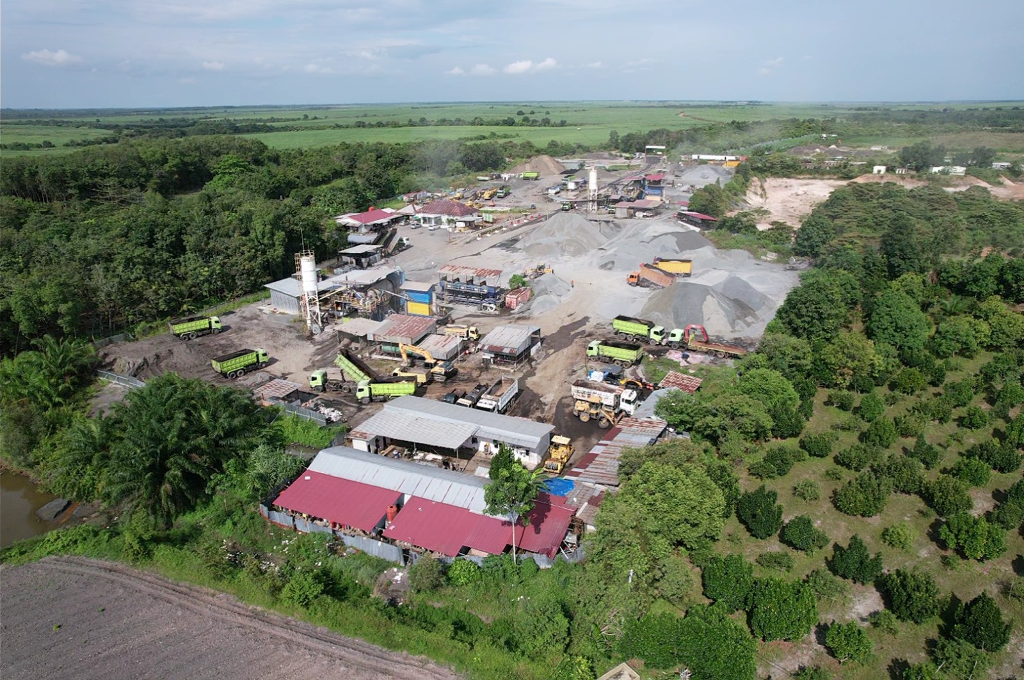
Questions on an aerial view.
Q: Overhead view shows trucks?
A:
Yes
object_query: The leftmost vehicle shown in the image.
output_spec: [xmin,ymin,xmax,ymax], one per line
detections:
[171,312,226,338]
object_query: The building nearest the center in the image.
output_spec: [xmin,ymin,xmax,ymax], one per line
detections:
[474,324,541,372]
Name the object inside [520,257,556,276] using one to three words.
work vehicle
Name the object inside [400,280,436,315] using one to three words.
building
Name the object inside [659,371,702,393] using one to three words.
shed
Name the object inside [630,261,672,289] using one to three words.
truck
